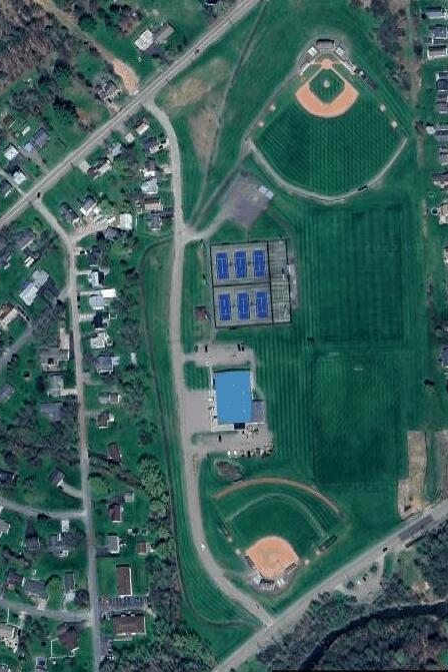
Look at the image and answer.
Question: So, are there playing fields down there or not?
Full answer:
Yes, a playing field appears in the view.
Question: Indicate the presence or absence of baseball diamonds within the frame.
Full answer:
Yes, the image includes a baseball diamond.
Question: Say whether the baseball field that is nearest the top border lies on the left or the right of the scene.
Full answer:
It is on the right.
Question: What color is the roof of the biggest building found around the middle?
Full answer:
From above, the roof of the biggest building found around the middle looks blue.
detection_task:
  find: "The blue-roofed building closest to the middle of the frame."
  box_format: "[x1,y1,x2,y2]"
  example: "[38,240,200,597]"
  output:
[212,369,266,432]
